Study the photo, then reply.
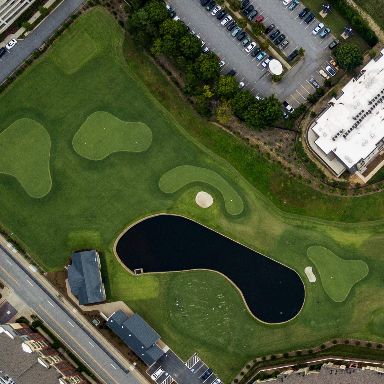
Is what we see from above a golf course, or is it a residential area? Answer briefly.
golf course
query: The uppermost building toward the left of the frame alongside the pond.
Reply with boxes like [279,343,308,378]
[67,249,106,305]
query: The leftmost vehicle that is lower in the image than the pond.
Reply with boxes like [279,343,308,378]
[150,367,165,382]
